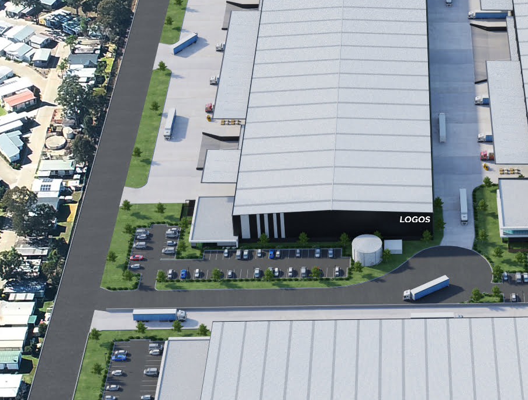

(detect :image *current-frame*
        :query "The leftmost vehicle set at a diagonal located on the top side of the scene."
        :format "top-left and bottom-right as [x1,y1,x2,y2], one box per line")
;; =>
[173,31,201,52]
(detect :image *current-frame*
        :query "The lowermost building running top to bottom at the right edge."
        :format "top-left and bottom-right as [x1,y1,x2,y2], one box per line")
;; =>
[496,178,528,250]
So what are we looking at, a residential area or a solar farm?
residential area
